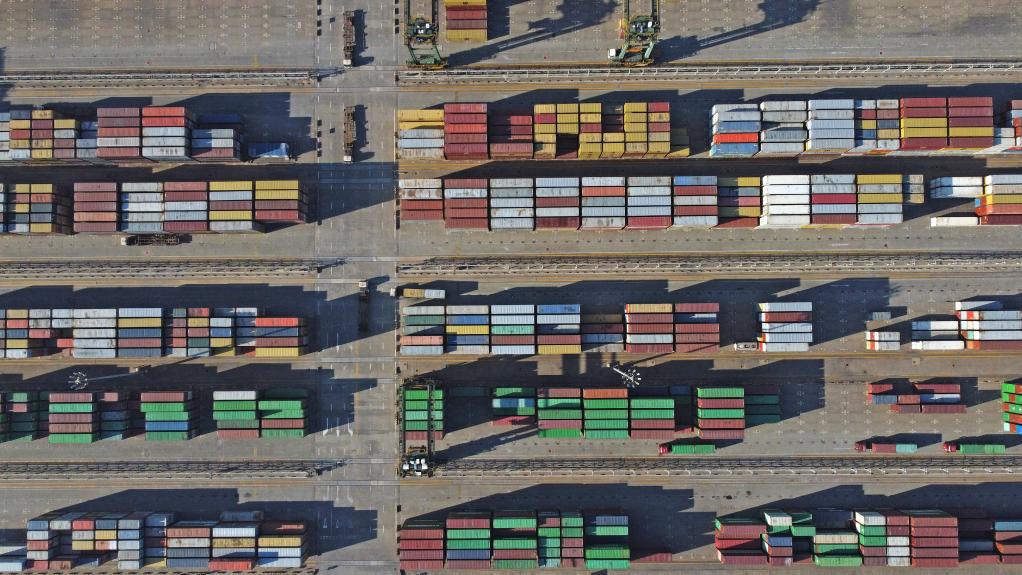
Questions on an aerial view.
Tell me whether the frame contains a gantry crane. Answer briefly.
Yes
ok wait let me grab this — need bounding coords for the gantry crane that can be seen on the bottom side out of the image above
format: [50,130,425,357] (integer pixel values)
[398,377,446,481]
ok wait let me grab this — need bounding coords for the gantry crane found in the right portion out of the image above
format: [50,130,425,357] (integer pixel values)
[607,0,660,66]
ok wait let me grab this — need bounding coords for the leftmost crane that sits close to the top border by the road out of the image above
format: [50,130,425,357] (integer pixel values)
[402,0,449,68]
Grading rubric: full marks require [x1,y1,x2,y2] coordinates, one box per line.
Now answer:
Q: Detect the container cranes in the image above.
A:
[398,377,446,481]
[607,0,660,66]
[402,0,449,68]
